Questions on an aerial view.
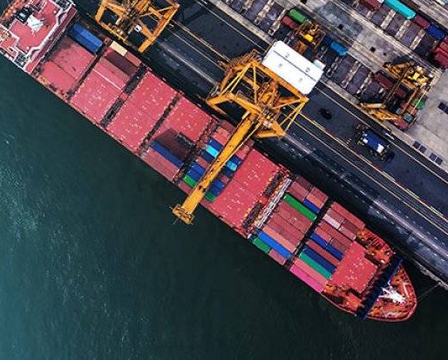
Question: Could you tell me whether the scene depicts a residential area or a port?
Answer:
port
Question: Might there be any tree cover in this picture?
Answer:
No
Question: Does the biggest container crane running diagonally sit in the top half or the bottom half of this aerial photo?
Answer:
top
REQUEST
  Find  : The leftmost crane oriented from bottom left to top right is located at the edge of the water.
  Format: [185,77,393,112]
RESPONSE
[169,21,329,227]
